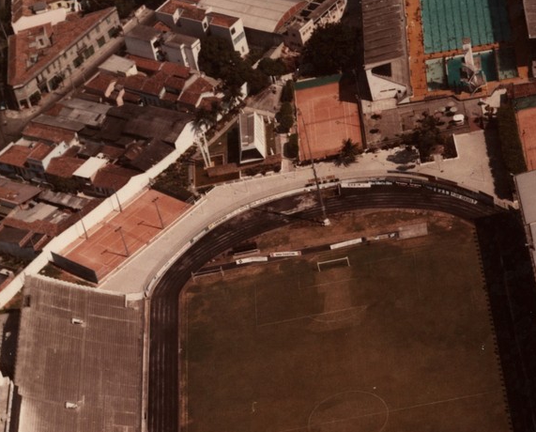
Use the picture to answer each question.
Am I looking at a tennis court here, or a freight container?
tennis court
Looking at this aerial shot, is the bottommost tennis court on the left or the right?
left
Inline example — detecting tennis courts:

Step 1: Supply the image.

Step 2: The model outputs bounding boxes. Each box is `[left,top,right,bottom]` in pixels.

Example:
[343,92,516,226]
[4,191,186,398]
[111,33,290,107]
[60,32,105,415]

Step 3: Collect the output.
[517,110,536,168]
[294,80,364,161]
[63,190,191,280]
